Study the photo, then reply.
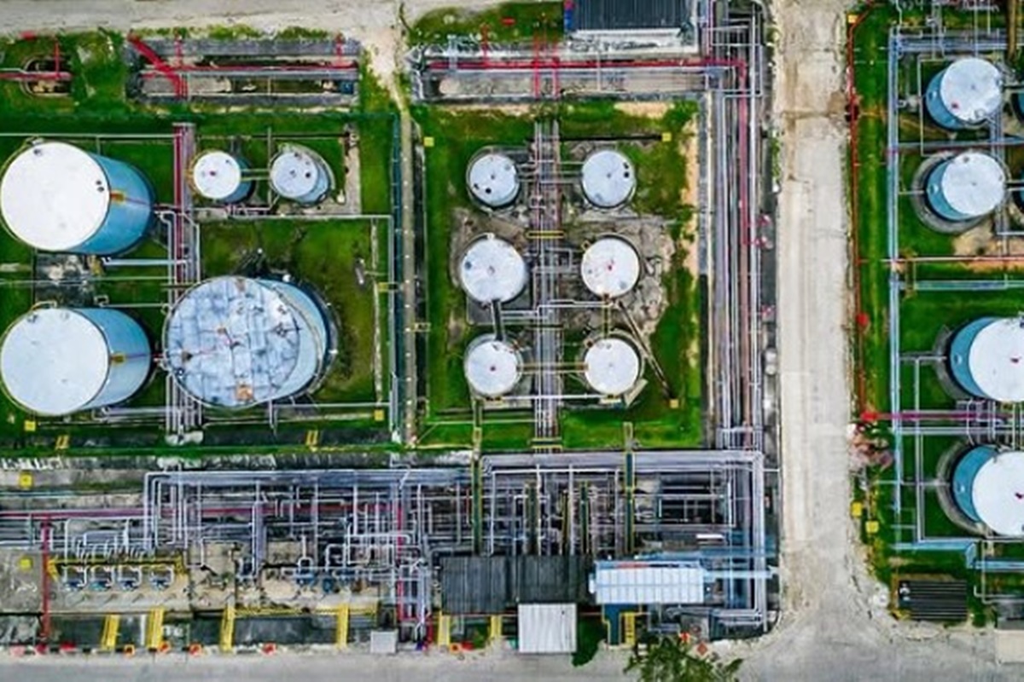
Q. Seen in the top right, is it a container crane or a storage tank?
storage tank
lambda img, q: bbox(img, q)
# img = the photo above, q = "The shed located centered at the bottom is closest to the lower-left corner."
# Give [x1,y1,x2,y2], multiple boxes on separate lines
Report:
[441,547,516,613]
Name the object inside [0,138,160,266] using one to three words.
storage tank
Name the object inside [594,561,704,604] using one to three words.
shed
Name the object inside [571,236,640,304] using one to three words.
storage tank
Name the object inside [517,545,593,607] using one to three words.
shed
